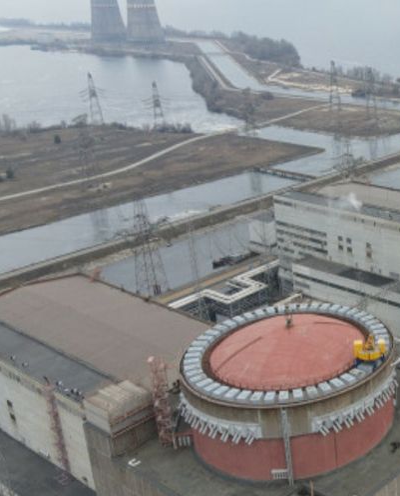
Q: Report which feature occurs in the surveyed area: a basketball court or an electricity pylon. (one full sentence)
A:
There is an electricity pylon in the scene.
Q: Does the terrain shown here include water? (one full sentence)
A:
Yes, water can be seen from above here.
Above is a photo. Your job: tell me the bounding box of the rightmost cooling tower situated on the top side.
[123,0,168,42]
